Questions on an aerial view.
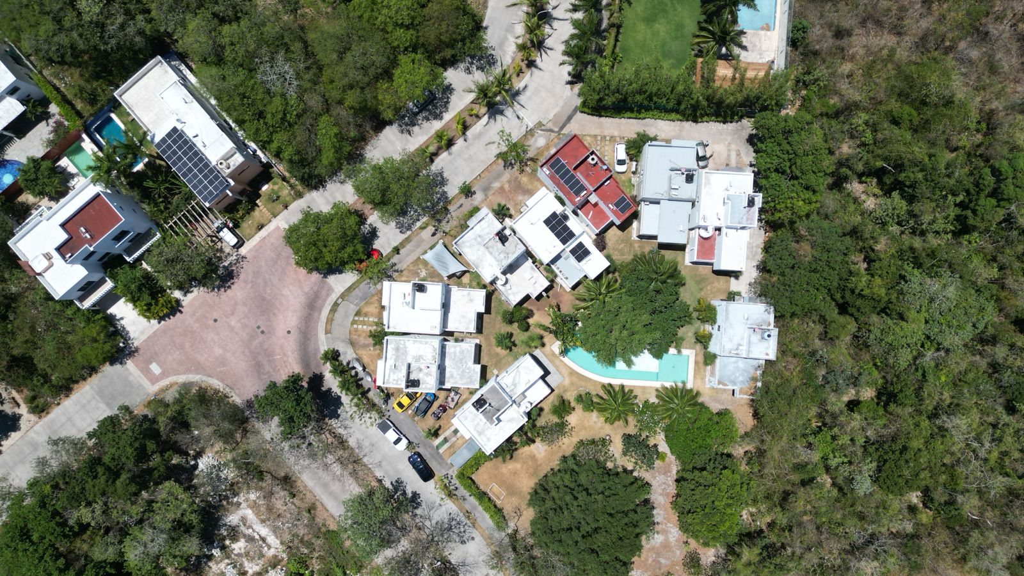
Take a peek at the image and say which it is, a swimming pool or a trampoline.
swimming pool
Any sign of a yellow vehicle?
Yes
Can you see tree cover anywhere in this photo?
Yes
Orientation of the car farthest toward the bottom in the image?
diagonally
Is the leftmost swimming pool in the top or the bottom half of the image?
top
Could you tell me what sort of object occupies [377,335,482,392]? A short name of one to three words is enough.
house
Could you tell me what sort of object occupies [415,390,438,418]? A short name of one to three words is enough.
car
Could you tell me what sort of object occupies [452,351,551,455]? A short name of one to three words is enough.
house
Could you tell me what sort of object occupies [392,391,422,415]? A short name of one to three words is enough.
car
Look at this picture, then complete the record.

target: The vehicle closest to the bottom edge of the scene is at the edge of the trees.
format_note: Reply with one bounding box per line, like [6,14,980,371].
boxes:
[407,450,436,484]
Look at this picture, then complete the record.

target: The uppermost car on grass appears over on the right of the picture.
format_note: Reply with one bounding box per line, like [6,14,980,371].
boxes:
[613,142,628,174]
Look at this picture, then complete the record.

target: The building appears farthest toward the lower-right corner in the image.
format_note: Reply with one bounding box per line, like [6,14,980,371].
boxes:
[707,301,778,399]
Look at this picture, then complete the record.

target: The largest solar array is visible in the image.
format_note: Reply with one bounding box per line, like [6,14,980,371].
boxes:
[155,127,226,202]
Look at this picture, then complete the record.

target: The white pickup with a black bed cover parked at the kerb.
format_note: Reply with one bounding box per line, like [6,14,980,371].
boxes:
[375,418,410,451]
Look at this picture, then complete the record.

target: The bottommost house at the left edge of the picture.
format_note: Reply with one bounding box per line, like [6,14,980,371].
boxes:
[8,174,161,309]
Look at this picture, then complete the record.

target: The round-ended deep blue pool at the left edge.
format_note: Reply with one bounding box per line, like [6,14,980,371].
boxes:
[0,157,21,191]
